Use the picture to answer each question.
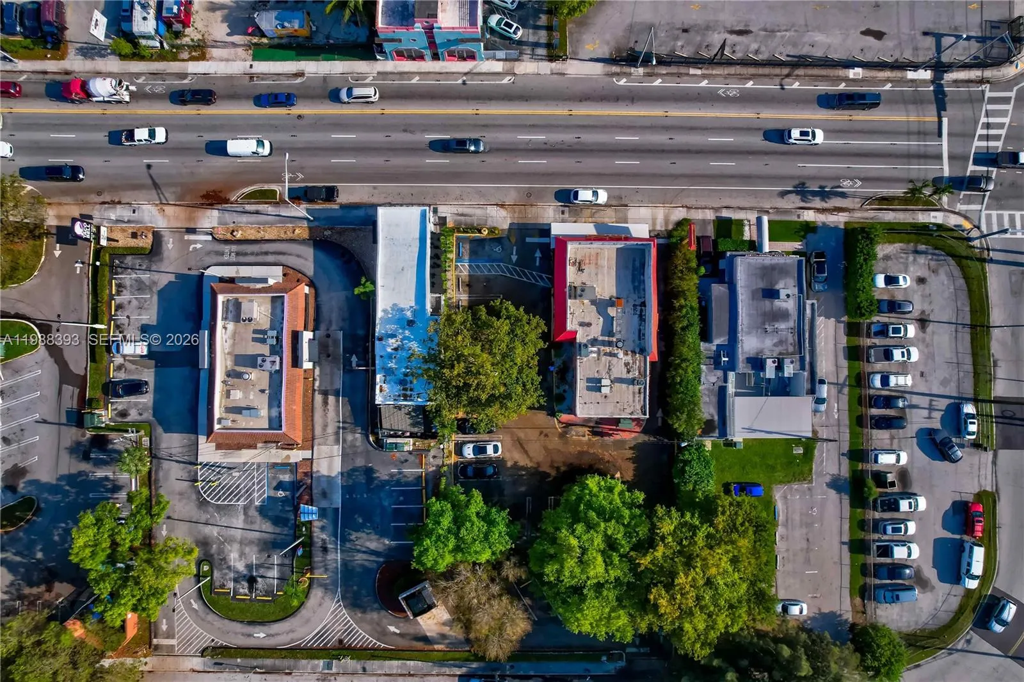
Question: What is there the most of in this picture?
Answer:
paved ground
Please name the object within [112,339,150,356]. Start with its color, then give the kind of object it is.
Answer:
white car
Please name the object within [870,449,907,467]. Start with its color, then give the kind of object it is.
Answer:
white car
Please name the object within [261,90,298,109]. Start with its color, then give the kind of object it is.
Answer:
blue car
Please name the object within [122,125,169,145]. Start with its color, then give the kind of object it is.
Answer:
white vehicle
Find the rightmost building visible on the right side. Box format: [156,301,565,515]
[694,246,816,439]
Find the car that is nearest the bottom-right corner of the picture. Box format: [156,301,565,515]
[985,595,1018,633]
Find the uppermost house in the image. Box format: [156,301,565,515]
[377,0,487,64]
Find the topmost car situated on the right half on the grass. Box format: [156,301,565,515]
[731,481,764,498]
